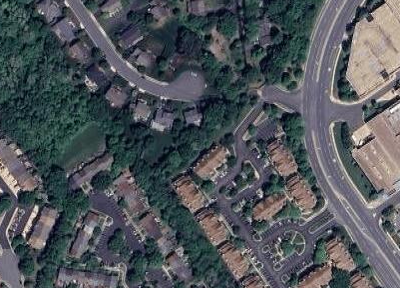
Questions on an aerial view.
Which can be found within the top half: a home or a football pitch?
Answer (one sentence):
It is a home that can be seen within the top half.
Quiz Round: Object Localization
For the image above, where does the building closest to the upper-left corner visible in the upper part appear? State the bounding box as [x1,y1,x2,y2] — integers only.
[37,0,63,22]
